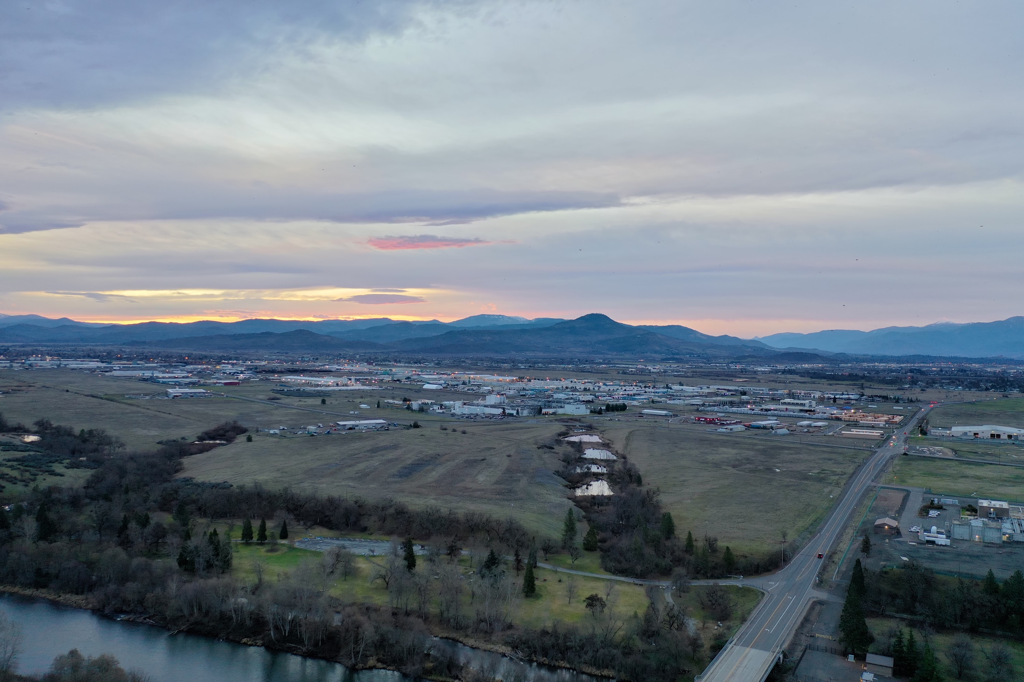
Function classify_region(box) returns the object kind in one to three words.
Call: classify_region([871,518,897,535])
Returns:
building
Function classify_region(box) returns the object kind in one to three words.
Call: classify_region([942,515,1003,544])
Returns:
building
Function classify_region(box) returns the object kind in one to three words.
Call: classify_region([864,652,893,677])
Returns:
shed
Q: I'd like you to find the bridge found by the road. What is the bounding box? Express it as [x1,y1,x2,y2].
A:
[688,627,785,682]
